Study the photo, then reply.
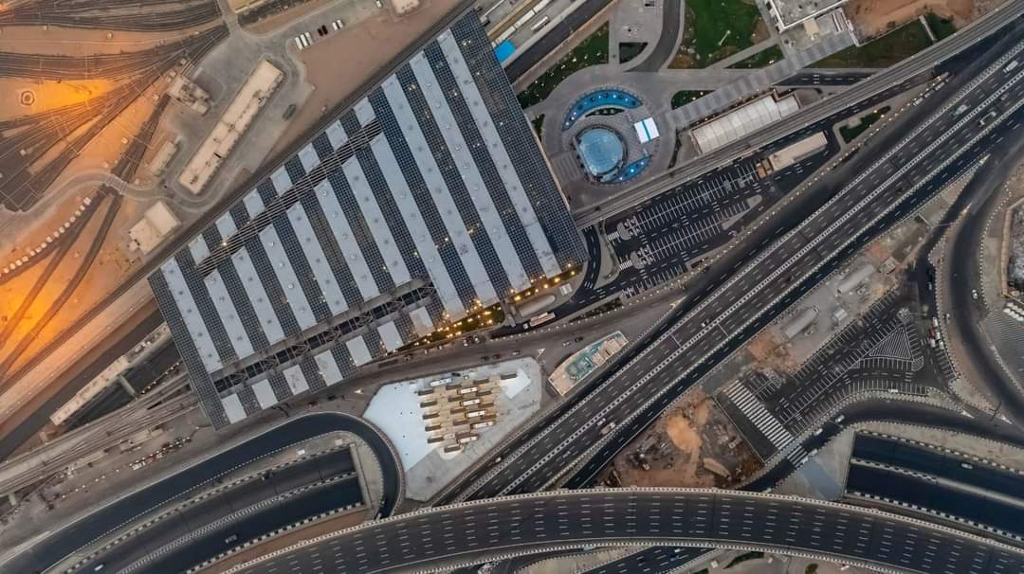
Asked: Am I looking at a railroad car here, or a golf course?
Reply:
railroad car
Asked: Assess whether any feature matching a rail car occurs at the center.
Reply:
No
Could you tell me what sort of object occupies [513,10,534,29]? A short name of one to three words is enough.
rail car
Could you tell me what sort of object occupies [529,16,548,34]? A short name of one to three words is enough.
rail car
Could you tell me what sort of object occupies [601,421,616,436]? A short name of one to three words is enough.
vehicle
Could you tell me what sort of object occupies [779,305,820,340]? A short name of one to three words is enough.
shed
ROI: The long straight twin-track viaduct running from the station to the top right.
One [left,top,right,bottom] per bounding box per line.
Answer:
[569,0,1024,230]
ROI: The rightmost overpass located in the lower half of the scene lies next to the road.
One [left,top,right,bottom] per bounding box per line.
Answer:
[220,485,1024,574]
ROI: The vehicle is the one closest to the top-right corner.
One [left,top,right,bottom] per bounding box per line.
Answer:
[1003,59,1020,73]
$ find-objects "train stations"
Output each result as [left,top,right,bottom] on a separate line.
[148,9,589,431]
